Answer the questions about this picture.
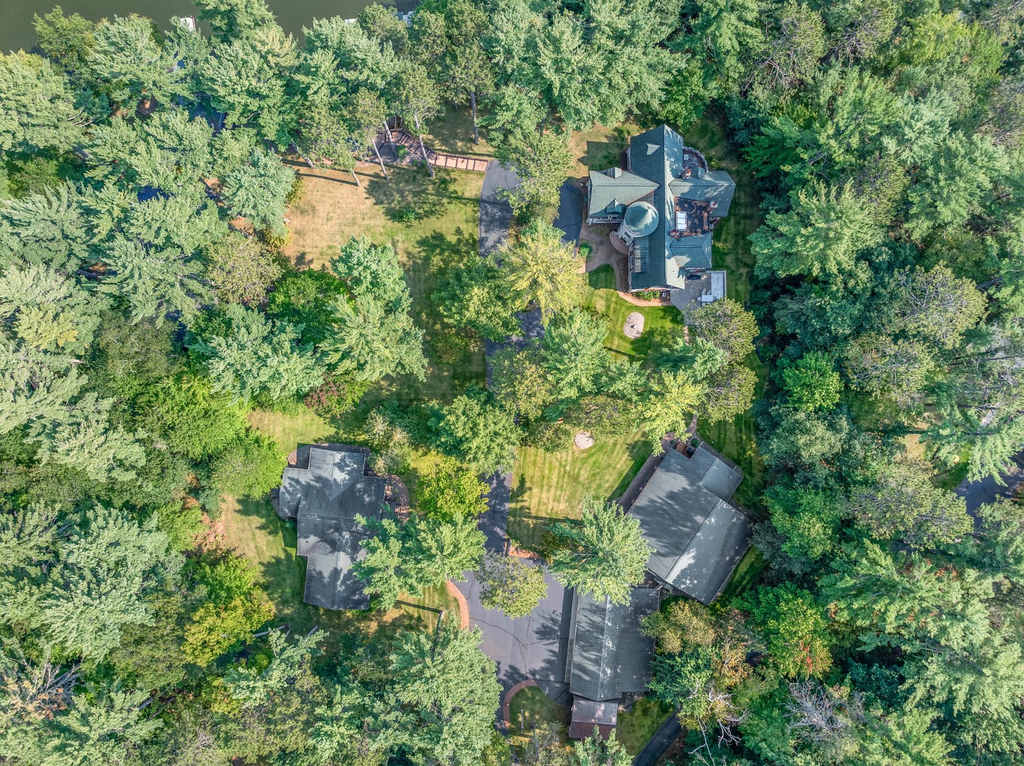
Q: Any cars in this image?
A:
No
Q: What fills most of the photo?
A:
trees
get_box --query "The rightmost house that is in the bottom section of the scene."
[624,447,751,603]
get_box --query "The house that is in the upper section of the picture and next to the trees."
[582,124,736,293]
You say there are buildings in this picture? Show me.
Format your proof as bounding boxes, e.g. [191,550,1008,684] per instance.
[280,448,386,609]
[624,447,751,603]
[565,584,660,702]
[582,124,736,293]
